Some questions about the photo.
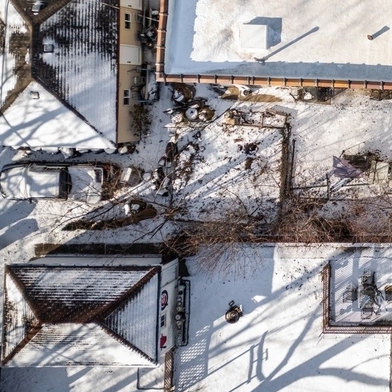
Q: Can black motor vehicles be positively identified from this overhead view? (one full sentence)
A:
No, I find no black motor vehicle anywhere in the image.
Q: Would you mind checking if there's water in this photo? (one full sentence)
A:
No, there is no water in the image.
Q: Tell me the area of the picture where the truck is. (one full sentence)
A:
The truck sits in the left section of the image.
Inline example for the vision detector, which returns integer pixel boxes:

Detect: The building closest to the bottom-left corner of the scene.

[0,253,177,367]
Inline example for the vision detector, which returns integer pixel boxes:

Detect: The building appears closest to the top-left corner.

[0,0,142,150]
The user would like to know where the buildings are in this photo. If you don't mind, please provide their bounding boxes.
[157,0,392,92]
[0,0,142,150]
[0,253,177,367]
